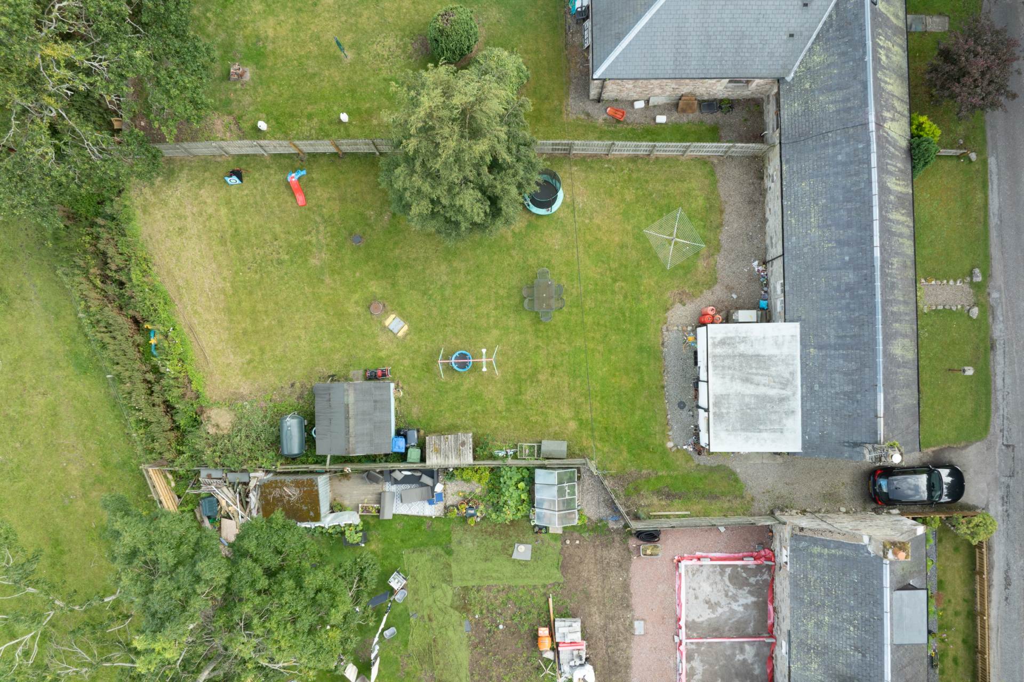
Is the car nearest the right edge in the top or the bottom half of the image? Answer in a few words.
bottom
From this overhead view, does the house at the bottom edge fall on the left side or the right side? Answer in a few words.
right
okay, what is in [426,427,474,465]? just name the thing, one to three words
building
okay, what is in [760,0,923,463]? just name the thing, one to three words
house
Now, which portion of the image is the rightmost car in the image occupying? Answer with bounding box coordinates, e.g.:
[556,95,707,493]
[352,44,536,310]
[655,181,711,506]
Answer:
[867,460,966,511]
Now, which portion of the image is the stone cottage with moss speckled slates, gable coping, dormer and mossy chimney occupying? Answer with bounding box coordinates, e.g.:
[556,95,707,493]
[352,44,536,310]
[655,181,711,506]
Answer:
[771,510,935,682]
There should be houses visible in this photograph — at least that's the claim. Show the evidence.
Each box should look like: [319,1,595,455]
[760,0,923,463]
[771,510,935,682]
